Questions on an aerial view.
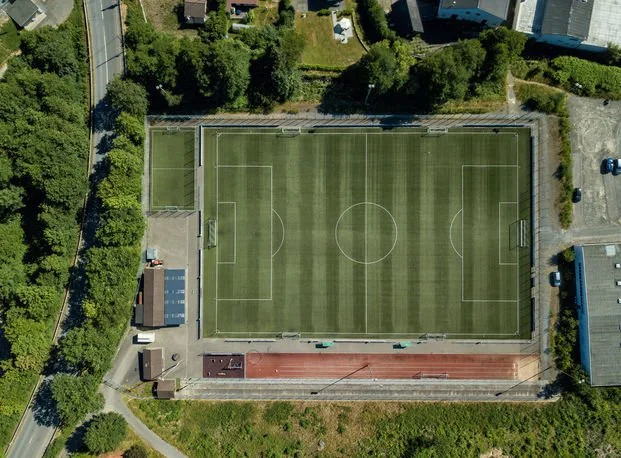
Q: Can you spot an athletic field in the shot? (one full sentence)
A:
Yes, the photo shows an athletic field.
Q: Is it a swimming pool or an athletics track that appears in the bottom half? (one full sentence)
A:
You can see an athletics track in the bottom half.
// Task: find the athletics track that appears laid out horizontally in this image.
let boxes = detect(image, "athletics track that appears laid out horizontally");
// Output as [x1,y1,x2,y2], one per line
[246,352,519,379]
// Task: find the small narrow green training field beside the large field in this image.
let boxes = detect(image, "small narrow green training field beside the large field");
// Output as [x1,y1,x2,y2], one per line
[151,129,195,209]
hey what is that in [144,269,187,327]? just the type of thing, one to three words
building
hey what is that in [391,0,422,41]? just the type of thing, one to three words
barn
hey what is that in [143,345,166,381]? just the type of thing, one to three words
house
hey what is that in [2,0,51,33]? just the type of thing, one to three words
house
